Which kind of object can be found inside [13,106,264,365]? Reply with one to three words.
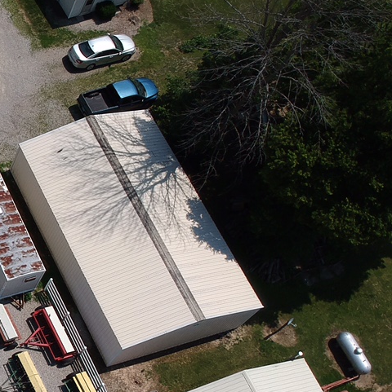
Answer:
shed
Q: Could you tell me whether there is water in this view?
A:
No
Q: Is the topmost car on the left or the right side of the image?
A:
left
